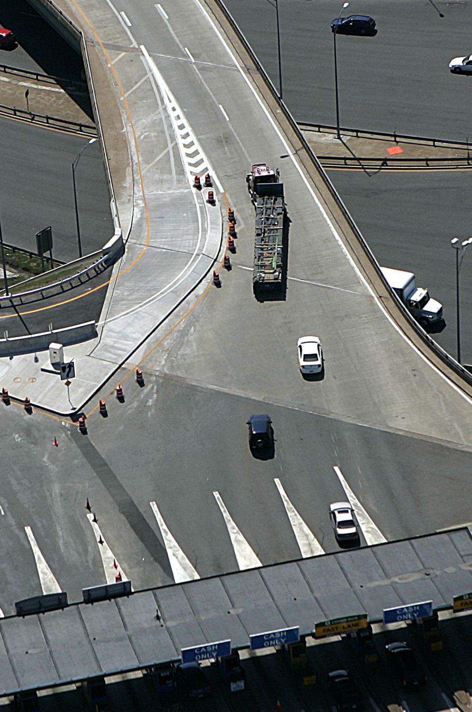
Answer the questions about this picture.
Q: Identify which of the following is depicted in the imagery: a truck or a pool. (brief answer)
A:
truck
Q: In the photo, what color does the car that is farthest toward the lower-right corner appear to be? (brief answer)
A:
black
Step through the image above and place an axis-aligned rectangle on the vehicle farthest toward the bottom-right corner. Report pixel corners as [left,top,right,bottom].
[378,636,424,686]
